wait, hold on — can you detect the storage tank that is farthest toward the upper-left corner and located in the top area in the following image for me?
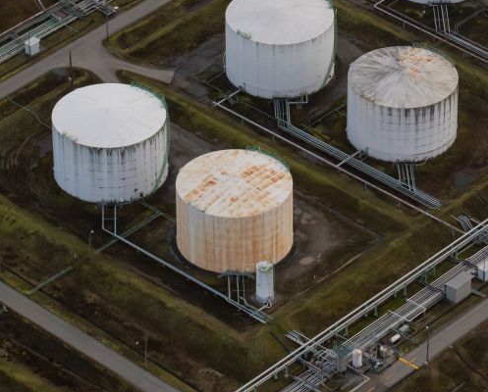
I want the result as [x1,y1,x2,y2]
[52,80,174,203]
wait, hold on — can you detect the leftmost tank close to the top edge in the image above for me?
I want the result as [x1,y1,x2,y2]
[226,0,340,99]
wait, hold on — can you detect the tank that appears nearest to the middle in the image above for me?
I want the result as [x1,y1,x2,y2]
[175,146,293,275]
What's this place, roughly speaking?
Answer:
industrial area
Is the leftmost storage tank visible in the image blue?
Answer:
No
